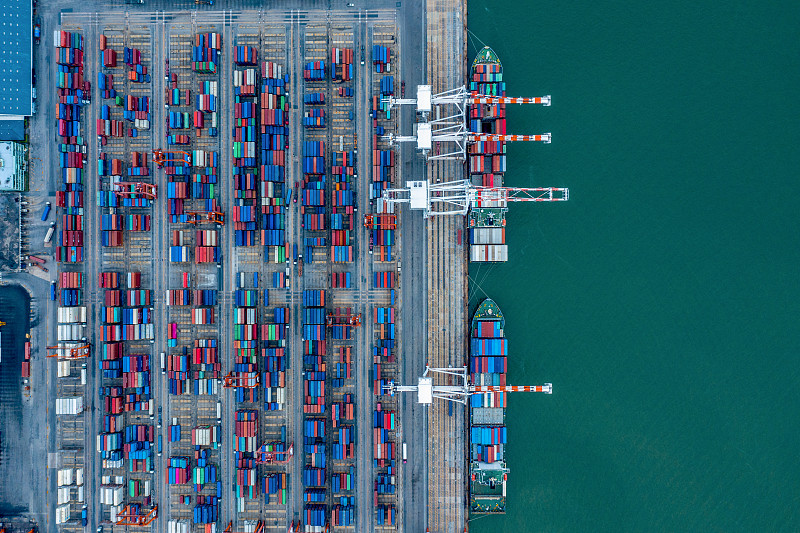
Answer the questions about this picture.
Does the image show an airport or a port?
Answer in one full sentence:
This looks like a port.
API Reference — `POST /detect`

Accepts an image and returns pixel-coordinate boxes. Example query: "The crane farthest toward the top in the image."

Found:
[381,84,552,130]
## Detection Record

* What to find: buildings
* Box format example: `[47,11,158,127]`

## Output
[0,0,33,116]
[0,141,25,193]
